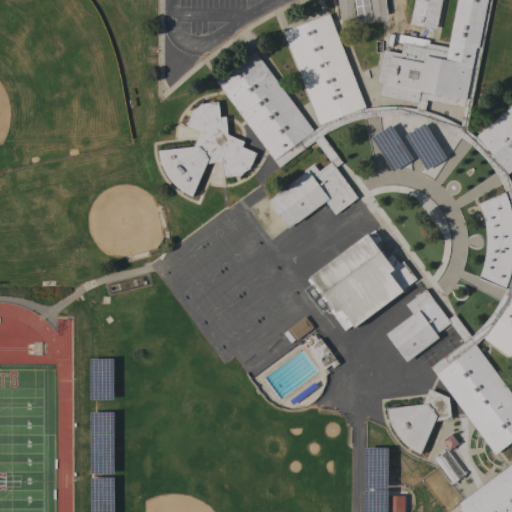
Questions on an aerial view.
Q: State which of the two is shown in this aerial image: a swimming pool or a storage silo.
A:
swimming pool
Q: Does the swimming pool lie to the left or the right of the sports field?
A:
on the right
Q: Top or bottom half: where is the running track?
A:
bottom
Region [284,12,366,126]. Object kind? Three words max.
building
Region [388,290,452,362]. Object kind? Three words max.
building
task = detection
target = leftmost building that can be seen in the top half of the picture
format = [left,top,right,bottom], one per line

[159,101,255,196]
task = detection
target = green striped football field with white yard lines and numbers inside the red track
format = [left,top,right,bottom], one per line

[0,364,58,512]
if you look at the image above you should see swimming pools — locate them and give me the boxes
[255,338,331,408]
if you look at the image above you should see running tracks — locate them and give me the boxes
[0,303,74,512]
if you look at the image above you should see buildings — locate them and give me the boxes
[222,56,314,159]
[284,12,366,126]
[481,193,512,287]
[309,230,418,330]
[304,332,340,368]
[374,0,387,18]
[285,318,314,343]
[270,162,359,227]
[380,0,490,110]
[159,101,255,196]
[340,0,355,20]
[356,0,372,16]
[388,390,452,455]
[412,0,444,28]
[486,300,512,358]
[439,346,512,454]
[388,290,452,362]
[436,450,468,486]
[462,466,512,512]
[394,496,406,512]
